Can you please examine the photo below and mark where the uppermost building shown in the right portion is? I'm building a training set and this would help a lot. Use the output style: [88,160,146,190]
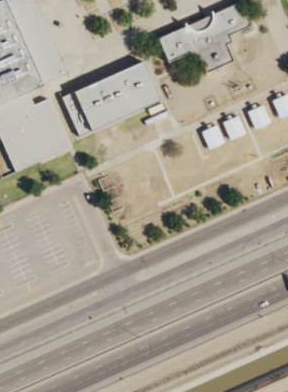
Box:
[160,4,250,72]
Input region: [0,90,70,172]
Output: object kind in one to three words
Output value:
building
